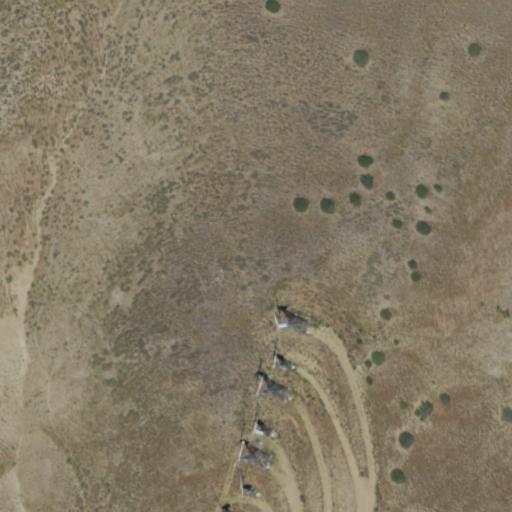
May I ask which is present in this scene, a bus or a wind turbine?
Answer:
wind turbine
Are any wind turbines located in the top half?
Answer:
No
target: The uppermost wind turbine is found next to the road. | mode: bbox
[274,314,310,342]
